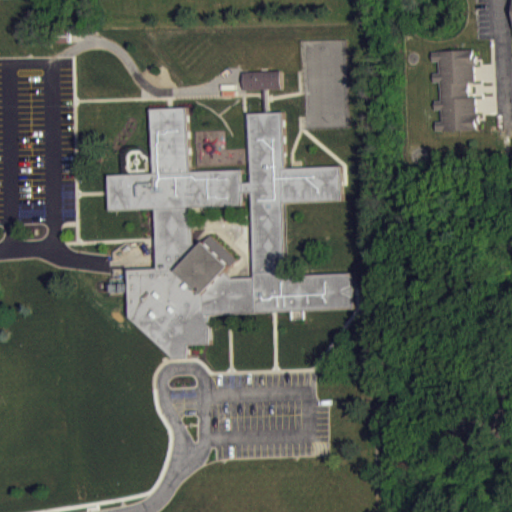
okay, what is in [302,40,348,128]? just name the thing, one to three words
sports court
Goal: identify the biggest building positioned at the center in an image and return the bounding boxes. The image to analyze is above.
[106,108,356,359]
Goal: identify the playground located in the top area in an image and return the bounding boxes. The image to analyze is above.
[195,130,246,168]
